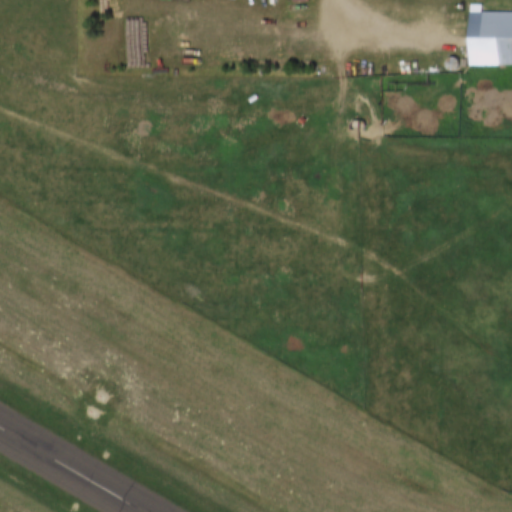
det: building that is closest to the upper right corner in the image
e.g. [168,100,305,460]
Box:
[466,3,512,68]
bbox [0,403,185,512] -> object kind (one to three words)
runway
